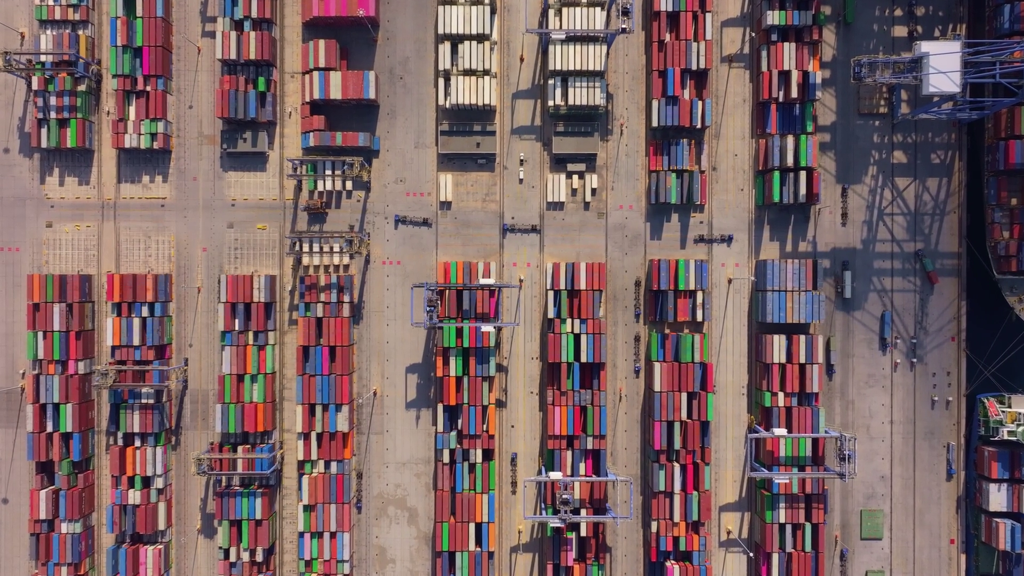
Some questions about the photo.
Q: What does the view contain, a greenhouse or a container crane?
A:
container crane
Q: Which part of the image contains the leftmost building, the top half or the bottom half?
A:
top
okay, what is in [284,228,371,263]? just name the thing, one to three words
container crane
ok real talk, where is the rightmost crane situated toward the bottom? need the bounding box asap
[748,418,858,483]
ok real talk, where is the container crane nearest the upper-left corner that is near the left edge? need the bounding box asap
[0,48,99,88]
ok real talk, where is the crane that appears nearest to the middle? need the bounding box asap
[411,279,520,332]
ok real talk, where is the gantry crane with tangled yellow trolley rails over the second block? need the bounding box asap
[92,356,187,390]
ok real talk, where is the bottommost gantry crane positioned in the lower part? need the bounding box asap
[524,459,633,527]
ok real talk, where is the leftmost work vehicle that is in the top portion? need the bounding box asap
[301,201,327,214]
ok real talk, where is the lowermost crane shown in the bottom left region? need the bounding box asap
[190,438,282,476]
